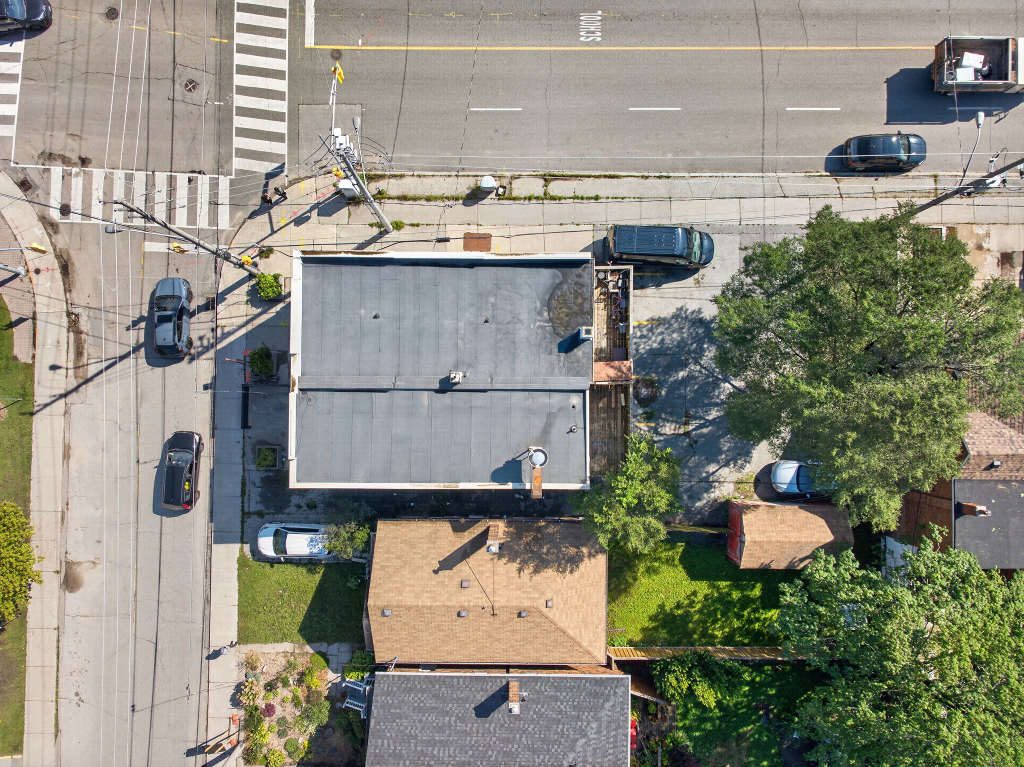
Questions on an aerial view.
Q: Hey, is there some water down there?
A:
No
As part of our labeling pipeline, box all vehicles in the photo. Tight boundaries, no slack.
[148,278,194,359]
[0,0,56,31]
[768,458,849,496]
[157,430,202,512]
[601,228,712,271]
[839,128,926,171]
[257,523,341,563]
[923,36,1024,97]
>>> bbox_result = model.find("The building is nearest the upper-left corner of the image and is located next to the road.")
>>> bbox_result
[289,251,594,489]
